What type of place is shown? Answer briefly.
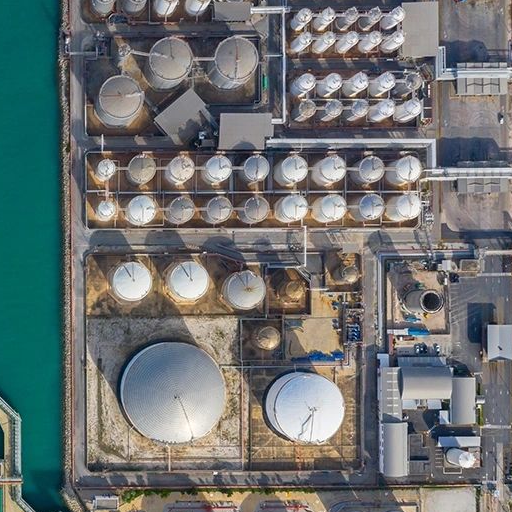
industrial area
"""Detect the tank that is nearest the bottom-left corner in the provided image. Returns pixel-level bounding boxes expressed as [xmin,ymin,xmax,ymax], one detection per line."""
[117,338,226,446]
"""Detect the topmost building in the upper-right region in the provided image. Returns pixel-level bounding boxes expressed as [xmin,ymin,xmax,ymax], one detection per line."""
[396,2,438,60]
